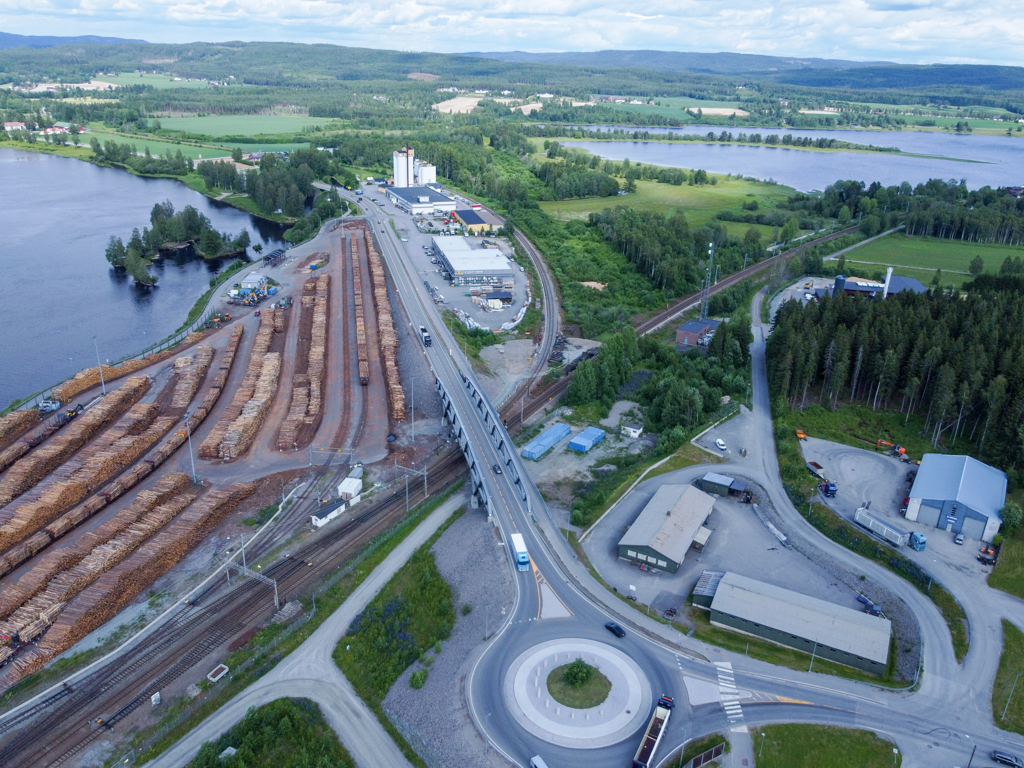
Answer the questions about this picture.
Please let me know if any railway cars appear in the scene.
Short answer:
Yes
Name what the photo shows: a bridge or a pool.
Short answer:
bridge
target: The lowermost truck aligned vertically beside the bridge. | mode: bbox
[509,520,530,567]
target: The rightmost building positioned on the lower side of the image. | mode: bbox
[905,453,1012,542]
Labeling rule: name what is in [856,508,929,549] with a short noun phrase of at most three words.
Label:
truck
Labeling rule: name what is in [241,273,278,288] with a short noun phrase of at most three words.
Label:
building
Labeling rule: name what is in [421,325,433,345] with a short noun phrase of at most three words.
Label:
vehicle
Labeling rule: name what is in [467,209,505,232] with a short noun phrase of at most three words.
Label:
building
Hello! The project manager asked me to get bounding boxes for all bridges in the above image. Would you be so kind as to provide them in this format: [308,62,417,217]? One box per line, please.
[434,370,537,501]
